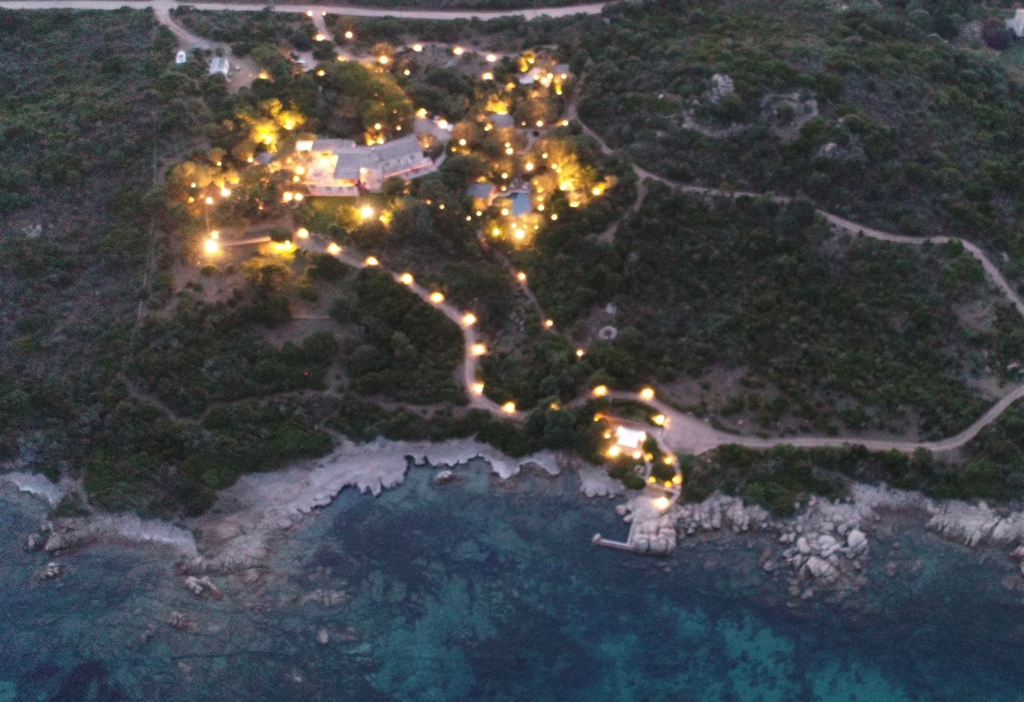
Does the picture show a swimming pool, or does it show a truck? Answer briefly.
swimming pool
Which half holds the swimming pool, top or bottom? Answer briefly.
top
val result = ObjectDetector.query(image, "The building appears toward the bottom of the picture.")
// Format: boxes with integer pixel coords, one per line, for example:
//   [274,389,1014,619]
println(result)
[611,426,651,460]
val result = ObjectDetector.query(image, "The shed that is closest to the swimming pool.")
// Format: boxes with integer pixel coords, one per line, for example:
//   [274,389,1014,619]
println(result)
[467,184,494,206]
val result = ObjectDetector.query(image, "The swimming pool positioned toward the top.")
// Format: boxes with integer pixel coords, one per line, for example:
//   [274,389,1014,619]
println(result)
[509,192,533,225]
